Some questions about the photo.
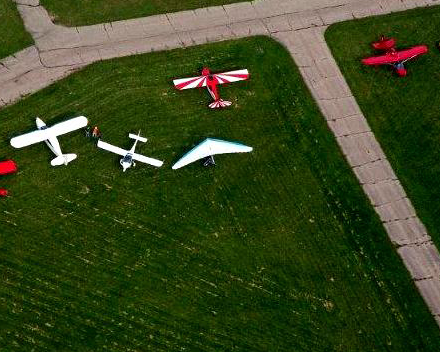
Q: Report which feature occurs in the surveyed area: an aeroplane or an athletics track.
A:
aeroplane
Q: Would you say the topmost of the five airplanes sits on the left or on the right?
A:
right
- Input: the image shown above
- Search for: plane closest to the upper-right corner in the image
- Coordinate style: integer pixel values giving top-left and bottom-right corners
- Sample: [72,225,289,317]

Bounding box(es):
[362,40,429,74]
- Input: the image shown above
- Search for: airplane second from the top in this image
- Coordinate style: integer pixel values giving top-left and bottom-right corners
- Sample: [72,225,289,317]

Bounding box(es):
[171,66,252,107]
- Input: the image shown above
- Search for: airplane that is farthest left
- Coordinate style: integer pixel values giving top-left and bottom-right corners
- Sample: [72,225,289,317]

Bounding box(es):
[9,115,91,167]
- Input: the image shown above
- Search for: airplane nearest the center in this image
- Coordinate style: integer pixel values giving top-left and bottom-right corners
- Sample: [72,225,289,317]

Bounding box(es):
[172,140,255,171]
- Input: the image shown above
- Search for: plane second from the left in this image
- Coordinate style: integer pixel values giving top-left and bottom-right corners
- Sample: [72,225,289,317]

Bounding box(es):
[98,131,166,175]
